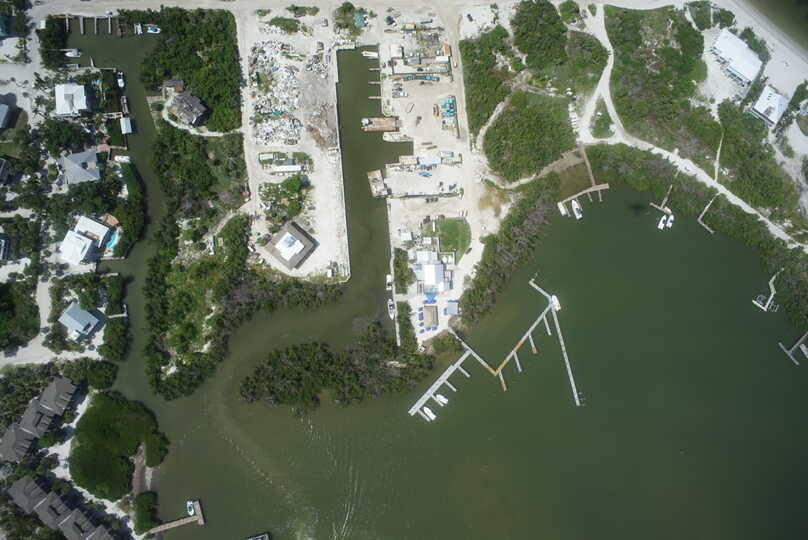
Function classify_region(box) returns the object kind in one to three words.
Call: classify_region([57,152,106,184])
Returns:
house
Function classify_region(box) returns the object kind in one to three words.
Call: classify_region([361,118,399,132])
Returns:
ship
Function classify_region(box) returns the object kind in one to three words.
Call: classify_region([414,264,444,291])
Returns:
building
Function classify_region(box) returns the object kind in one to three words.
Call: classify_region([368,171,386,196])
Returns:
ship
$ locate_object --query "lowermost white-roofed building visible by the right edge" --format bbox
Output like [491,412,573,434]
[746,85,788,129]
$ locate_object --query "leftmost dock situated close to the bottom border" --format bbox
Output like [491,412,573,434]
[149,499,205,534]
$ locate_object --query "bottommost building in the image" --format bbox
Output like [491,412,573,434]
[9,471,129,540]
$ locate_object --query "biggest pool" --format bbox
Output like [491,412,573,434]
[105,228,119,250]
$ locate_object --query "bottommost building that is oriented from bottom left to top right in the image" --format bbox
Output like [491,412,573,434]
[0,376,84,462]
